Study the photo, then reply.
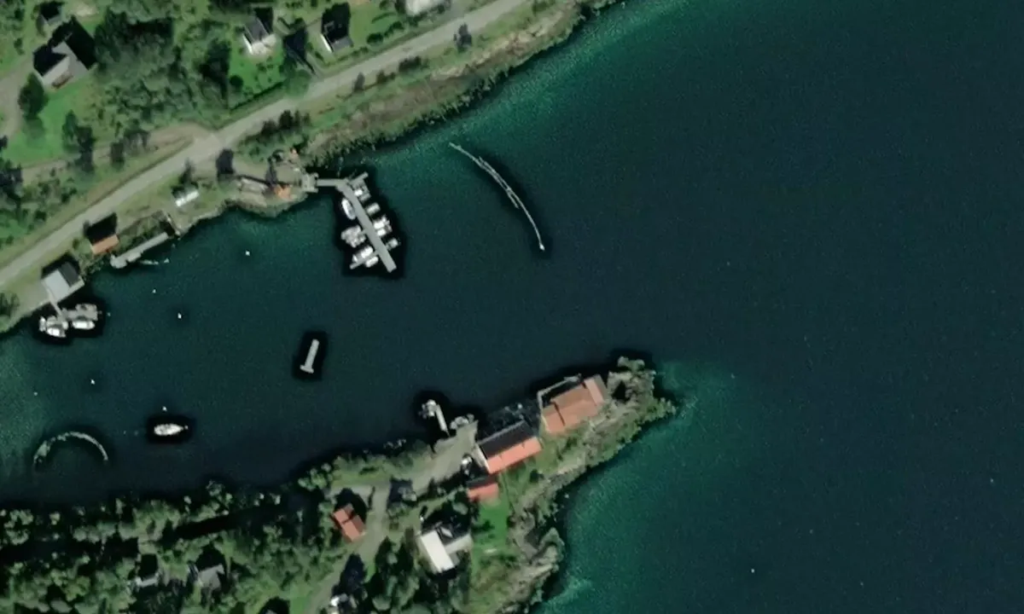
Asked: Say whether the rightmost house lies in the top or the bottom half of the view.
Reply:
bottom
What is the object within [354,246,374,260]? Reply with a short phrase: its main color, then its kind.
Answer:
white boat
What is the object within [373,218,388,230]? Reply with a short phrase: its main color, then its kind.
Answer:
white boat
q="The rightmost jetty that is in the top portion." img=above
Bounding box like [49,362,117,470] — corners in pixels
[317,172,398,273]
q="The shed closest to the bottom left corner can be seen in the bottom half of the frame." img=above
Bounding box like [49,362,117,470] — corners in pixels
[132,565,160,585]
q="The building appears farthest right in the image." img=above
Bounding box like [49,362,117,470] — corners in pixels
[537,375,611,431]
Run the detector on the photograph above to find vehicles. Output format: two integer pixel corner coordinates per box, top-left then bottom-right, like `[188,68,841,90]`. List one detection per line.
[462,465,470,477]
[461,455,471,467]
